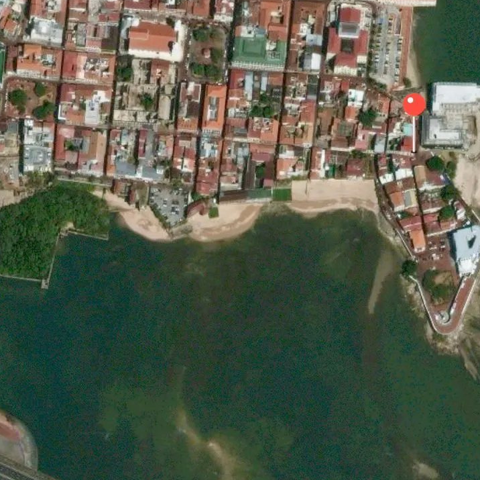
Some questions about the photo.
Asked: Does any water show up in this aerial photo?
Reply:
Yes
